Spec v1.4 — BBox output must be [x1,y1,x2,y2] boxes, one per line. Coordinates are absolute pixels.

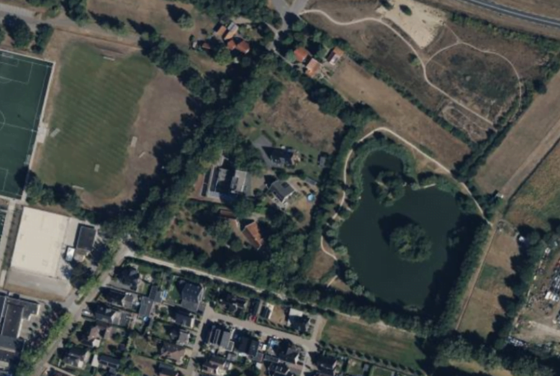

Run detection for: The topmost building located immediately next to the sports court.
[76,225,97,251]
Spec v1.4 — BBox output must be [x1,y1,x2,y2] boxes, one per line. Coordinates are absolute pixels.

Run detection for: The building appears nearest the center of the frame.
[271,180,295,203]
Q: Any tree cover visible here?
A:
Yes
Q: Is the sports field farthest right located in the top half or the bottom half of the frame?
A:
top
